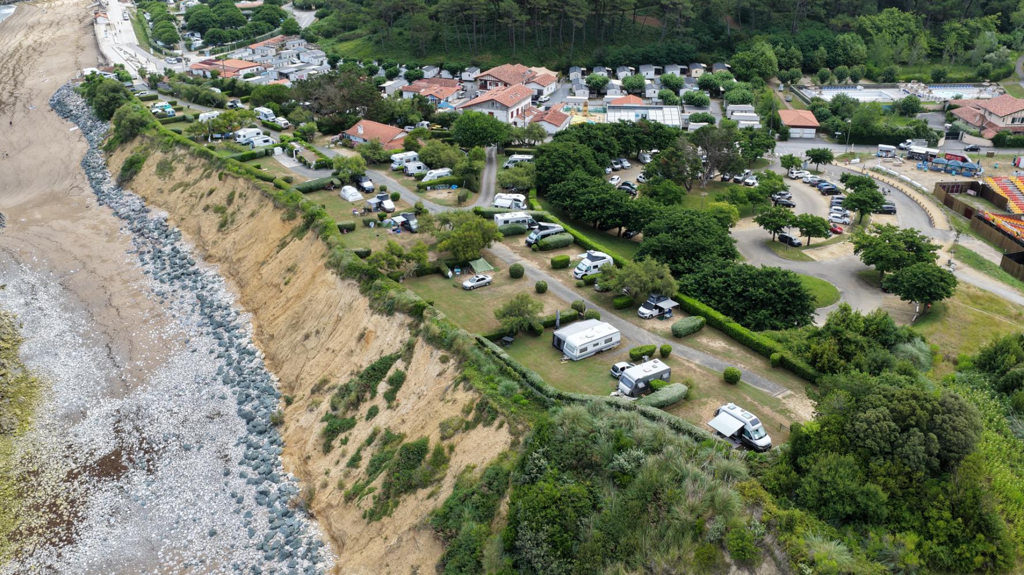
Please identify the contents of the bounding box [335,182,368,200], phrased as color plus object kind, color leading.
white tent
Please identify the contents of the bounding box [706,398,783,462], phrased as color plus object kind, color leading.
white camper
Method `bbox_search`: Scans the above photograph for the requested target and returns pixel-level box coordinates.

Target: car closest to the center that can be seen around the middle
[461,276,494,291]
